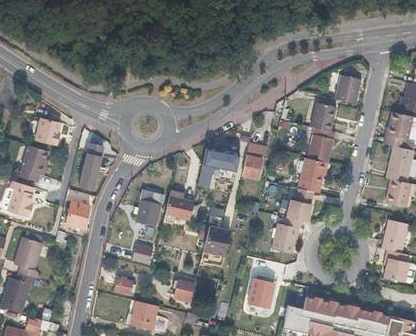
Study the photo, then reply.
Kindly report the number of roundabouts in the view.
2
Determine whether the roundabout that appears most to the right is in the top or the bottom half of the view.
bottom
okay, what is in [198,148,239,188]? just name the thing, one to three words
house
